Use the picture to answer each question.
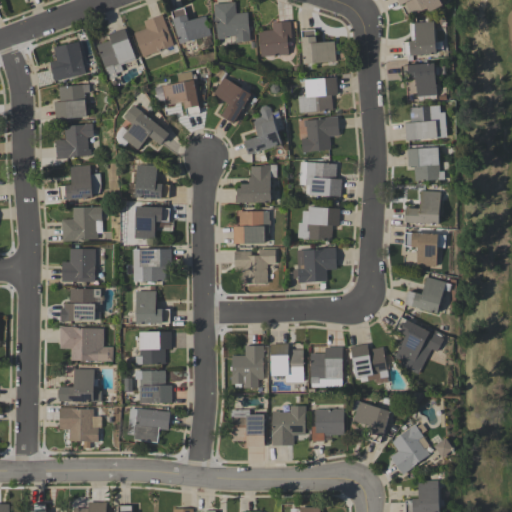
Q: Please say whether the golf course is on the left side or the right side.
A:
right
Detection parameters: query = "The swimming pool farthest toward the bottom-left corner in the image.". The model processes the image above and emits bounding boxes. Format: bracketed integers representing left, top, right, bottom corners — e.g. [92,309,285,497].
[102,368,114,390]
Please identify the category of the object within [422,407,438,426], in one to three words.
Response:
swimming pool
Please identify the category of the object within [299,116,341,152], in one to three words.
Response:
house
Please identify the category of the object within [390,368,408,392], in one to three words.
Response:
swimming pool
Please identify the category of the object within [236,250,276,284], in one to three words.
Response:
house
